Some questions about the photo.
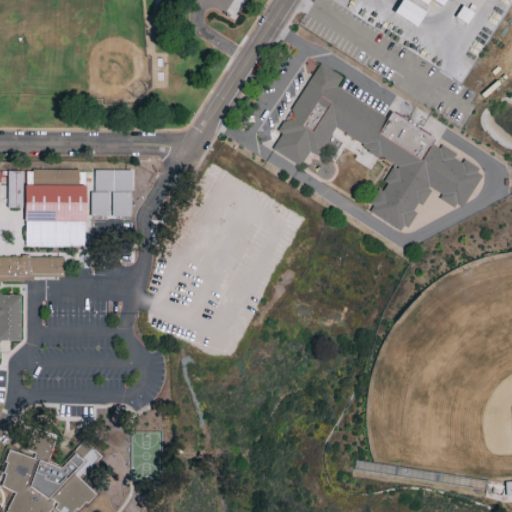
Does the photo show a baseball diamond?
Yes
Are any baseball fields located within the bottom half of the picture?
Yes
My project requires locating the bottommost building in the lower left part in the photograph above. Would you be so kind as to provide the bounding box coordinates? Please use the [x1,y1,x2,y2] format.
[2,433,102,512]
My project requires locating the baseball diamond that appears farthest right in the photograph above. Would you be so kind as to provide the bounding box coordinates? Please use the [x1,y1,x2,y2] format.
[367,252,512,480]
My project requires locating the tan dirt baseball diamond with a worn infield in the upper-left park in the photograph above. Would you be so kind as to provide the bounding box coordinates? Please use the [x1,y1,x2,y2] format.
[90,37,150,104]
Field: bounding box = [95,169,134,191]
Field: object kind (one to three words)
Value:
shed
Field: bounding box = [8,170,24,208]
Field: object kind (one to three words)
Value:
shed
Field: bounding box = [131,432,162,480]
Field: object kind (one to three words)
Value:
basketball court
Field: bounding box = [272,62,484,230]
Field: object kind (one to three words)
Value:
building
